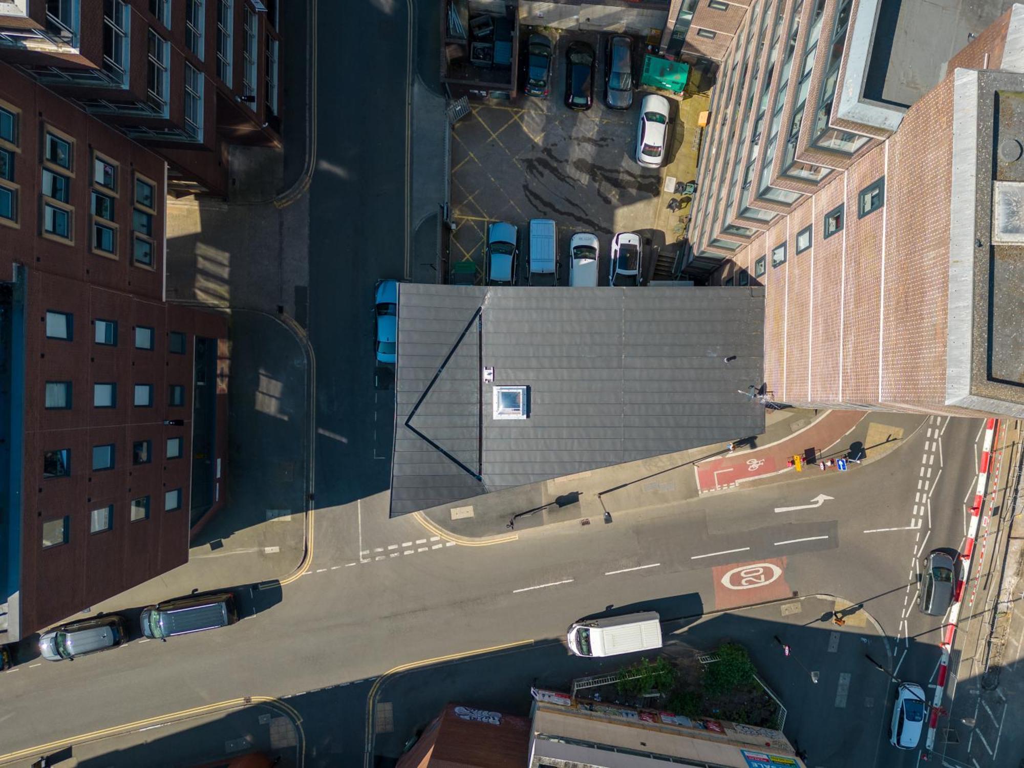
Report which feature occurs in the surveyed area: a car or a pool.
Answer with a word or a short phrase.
car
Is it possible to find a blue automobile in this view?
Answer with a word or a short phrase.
Yes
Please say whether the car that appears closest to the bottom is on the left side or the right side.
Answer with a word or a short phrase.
right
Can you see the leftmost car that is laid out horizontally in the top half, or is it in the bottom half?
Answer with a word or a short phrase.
bottom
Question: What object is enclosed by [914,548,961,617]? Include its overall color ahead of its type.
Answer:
gray car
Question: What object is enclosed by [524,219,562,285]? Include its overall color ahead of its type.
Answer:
blue van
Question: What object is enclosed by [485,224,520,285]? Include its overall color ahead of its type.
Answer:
blue car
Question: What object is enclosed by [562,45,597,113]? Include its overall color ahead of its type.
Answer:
black car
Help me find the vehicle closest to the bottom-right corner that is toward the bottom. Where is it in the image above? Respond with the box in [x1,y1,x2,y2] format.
[886,680,929,749]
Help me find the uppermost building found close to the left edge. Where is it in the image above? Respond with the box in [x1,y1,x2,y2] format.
[0,0,284,198]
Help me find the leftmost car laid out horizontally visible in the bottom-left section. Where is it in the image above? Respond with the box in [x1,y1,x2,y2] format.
[44,615,129,661]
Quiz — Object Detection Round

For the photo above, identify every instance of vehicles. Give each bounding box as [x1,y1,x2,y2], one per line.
[485,224,520,285]
[562,45,597,113]
[524,219,562,285]
[44,615,129,661]
[571,609,660,659]
[886,680,929,749]
[566,233,602,285]
[372,282,398,362]
[146,593,237,641]
[602,33,638,112]
[609,231,646,286]
[914,548,961,617]
[0,641,16,671]
[635,95,672,172]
